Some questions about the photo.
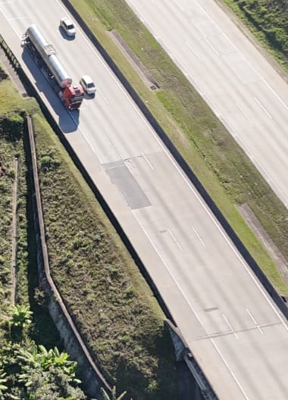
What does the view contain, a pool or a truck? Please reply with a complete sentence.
The one in the frame is a truck.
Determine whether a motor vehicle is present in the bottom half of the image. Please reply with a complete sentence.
No, no motor vehicle appears in the bottom half of the image.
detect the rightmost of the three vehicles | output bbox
[78,77,97,96]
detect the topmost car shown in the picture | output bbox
[57,19,76,37]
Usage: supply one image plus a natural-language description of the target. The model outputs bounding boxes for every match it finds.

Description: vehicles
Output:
[23,26,89,108]
[57,19,76,37]
[78,77,97,96]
